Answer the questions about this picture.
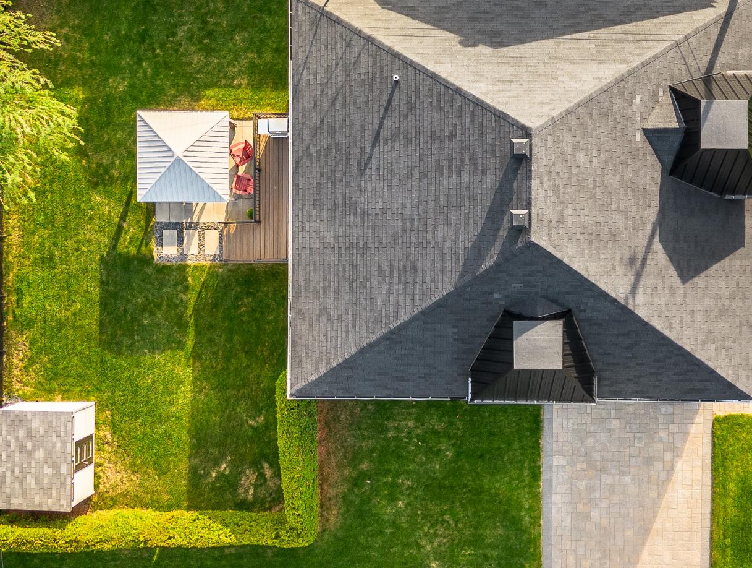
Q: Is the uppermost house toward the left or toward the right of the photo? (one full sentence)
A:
You can find the uppermost house on the right side of the picture.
